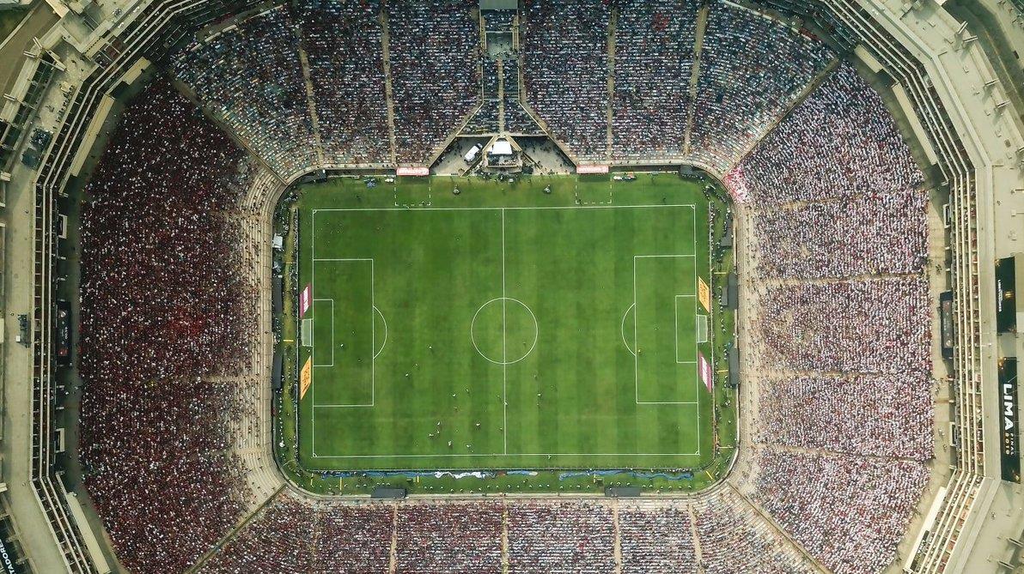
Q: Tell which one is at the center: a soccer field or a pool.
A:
soccer field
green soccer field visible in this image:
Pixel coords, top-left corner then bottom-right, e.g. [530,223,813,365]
[299,172,713,469]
